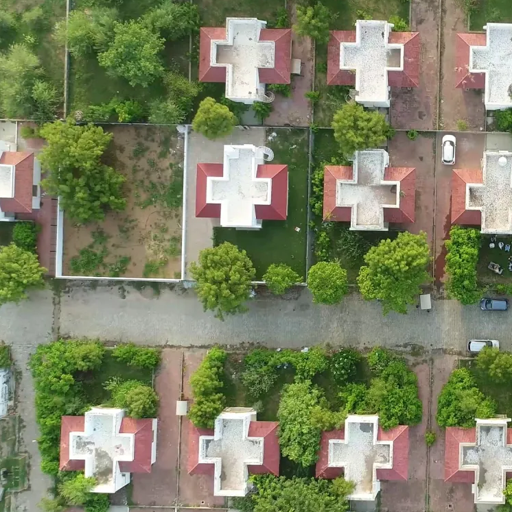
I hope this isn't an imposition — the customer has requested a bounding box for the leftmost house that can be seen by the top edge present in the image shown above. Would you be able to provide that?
[200,15,294,101]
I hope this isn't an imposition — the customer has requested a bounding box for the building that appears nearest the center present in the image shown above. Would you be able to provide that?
[194,145,290,231]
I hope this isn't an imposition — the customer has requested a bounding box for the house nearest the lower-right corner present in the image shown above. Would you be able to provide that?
[443,414,512,501]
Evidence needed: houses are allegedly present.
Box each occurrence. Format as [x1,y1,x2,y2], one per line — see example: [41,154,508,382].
[451,152,512,237]
[323,148,416,234]
[443,414,512,501]
[60,404,158,492]
[455,21,512,106]
[316,411,409,499]
[187,409,282,496]
[194,145,290,231]
[327,18,421,104]
[200,15,294,101]
[0,138,43,220]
